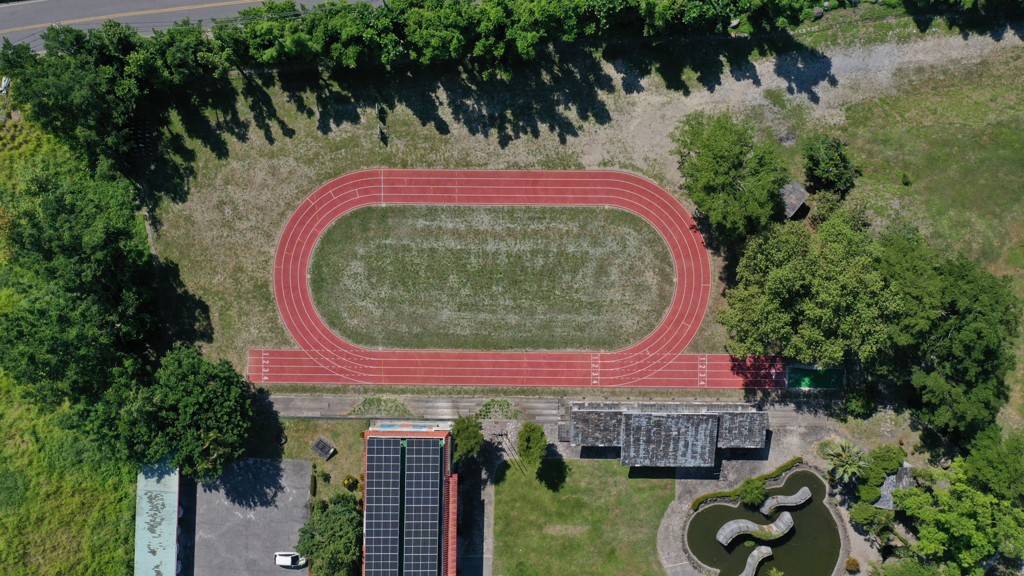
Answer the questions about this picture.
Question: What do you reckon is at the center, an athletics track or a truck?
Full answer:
Looking at the center, you will find an athletics track.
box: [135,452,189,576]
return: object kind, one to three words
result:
shed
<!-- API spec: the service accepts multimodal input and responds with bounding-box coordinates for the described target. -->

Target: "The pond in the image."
[678,462,850,576]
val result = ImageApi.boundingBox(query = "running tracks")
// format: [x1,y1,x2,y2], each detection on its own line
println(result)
[247,169,785,388]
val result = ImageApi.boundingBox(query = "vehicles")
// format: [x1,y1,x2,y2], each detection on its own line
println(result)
[274,550,306,567]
